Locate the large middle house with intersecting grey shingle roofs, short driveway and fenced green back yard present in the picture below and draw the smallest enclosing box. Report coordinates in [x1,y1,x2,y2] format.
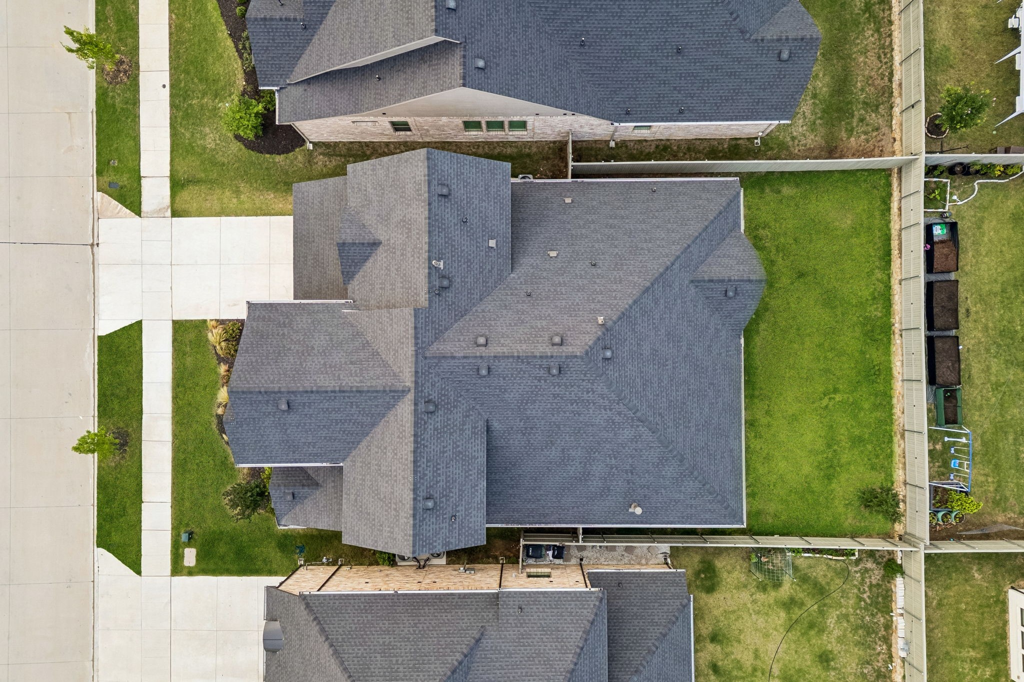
[223,148,765,555]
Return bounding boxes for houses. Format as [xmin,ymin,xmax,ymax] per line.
[1011,588,1024,682]
[261,559,696,682]
[223,148,765,555]
[246,0,821,147]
